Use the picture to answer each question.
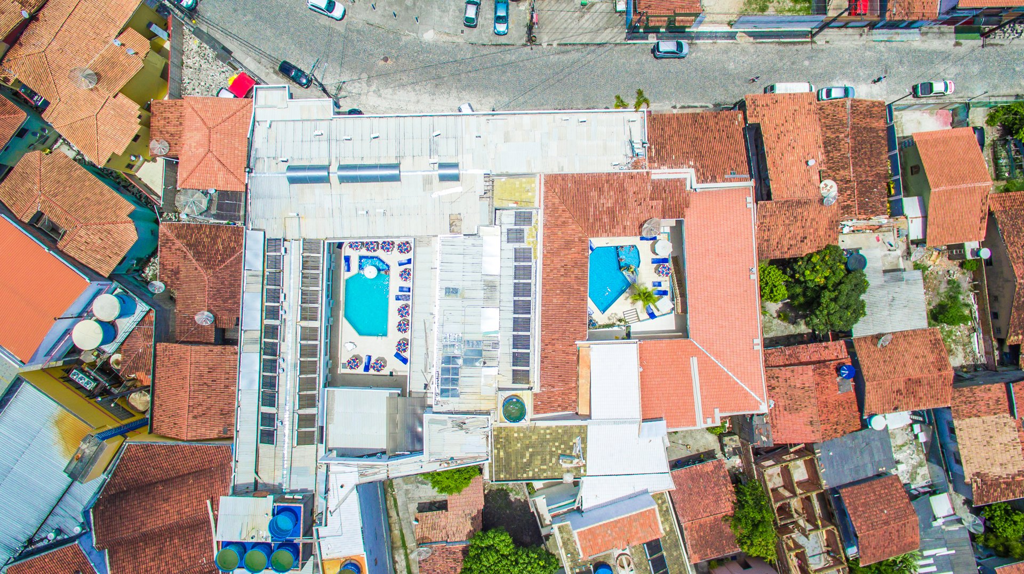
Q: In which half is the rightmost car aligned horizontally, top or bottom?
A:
top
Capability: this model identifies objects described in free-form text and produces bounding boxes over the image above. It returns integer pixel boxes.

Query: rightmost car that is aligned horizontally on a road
[913,78,953,98]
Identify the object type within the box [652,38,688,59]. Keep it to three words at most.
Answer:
car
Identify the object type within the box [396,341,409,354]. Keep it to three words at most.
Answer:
umbrella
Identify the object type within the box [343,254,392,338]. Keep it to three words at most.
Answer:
swimming pool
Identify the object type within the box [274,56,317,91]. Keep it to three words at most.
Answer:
car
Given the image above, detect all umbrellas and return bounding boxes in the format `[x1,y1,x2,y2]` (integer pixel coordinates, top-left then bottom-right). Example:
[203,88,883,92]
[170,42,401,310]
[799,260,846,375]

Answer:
[380,242,393,252]
[363,265,378,280]
[372,358,385,371]
[396,341,409,354]
[365,242,378,253]
[657,264,671,278]
[399,305,409,318]
[653,239,671,257]
[399,270,410,282]
[654,295,674,313]
[349,243,362,251]
[347,355,360,368]
[396,242,409,254]
[398,320,409,333]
